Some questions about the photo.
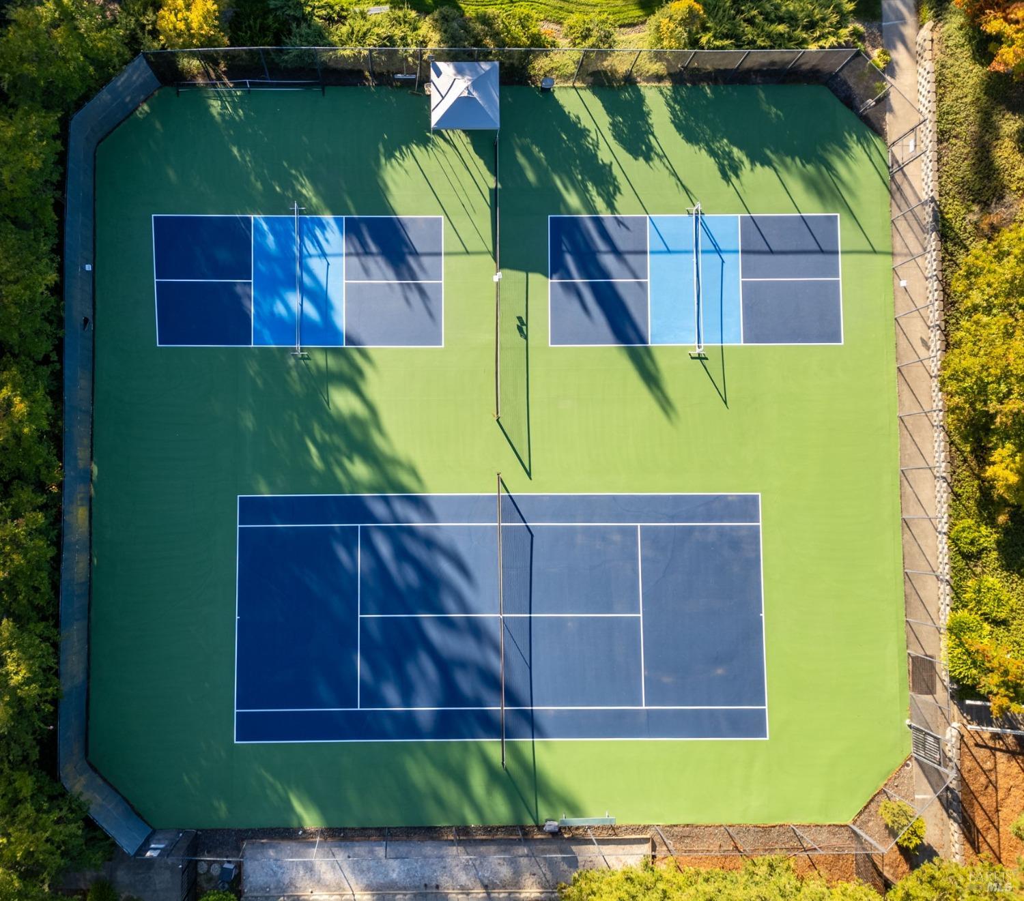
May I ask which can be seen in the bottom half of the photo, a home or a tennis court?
tennis court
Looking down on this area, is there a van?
No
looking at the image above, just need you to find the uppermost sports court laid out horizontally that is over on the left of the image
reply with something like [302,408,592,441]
[152,215,444,347]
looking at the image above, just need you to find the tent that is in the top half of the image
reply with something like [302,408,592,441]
[429,61,500,147]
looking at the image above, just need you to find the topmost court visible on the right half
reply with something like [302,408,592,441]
[549,214,843,346]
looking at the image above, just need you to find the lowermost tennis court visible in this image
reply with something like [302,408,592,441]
[236,493,768,742]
